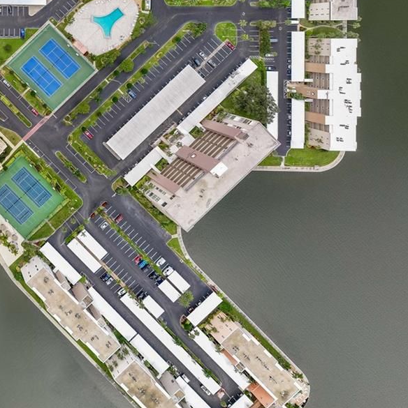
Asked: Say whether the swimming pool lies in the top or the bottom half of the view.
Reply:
top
